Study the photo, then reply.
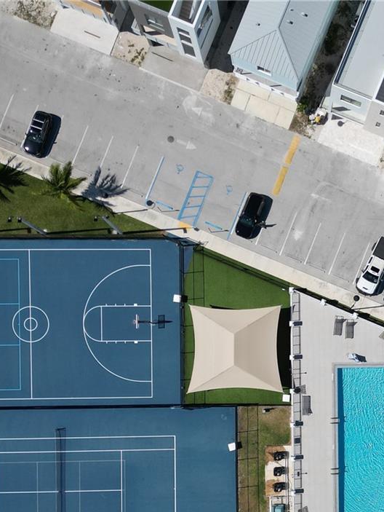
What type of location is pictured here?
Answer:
sports ground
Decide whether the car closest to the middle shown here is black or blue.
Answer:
black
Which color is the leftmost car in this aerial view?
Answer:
black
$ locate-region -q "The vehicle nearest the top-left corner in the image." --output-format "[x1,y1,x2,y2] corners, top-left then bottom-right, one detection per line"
[24,109,52,158]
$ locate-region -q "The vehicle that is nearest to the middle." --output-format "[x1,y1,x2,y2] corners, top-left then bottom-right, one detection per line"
[235,191,268,241]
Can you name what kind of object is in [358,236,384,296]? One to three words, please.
truck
